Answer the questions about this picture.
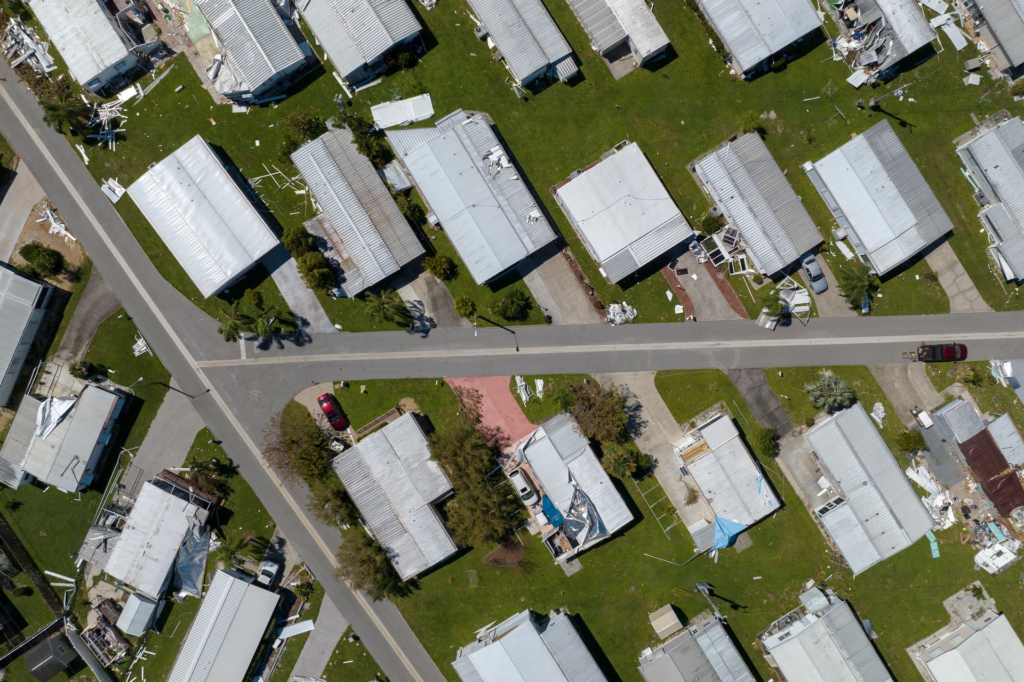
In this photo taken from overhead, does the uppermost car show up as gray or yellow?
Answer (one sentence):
The color of the uppermost car is gray.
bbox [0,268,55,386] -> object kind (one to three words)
house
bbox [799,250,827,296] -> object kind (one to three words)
car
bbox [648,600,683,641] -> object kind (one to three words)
shed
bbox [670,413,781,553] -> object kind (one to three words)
house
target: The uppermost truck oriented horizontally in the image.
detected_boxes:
[915,341,968,363]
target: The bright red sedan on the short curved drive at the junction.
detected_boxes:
[317,391,350,433]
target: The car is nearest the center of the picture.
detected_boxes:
[507,465,539,508]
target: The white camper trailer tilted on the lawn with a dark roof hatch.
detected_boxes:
[969,536,1020,576]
